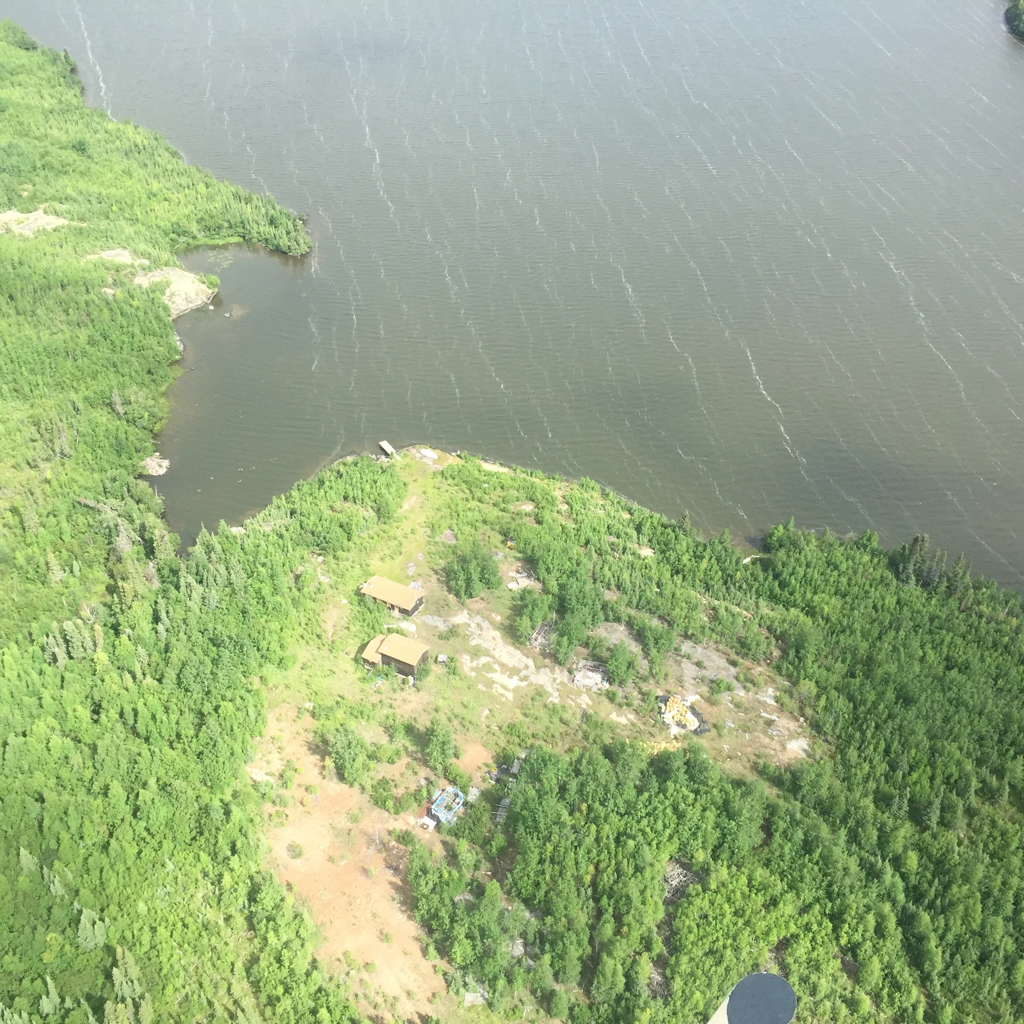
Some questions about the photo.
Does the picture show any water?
Yes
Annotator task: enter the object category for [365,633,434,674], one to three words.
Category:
building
